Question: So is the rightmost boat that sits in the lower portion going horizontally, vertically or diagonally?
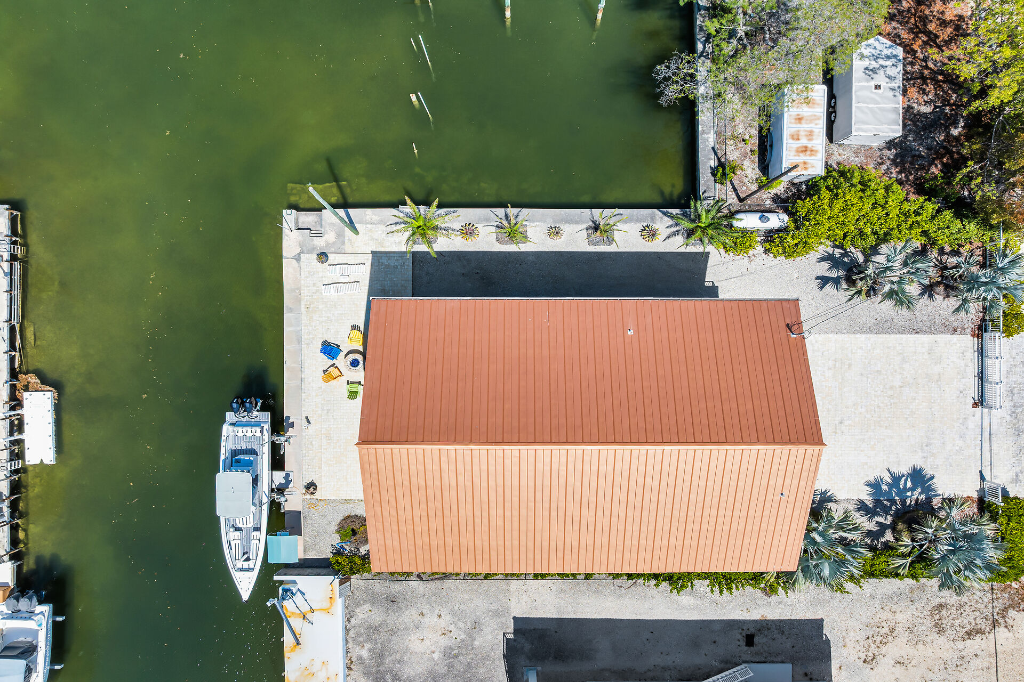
vertically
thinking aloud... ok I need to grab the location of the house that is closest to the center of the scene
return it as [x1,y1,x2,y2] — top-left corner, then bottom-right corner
[356,296,827,572]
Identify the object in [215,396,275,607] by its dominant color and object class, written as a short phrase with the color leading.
white boat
